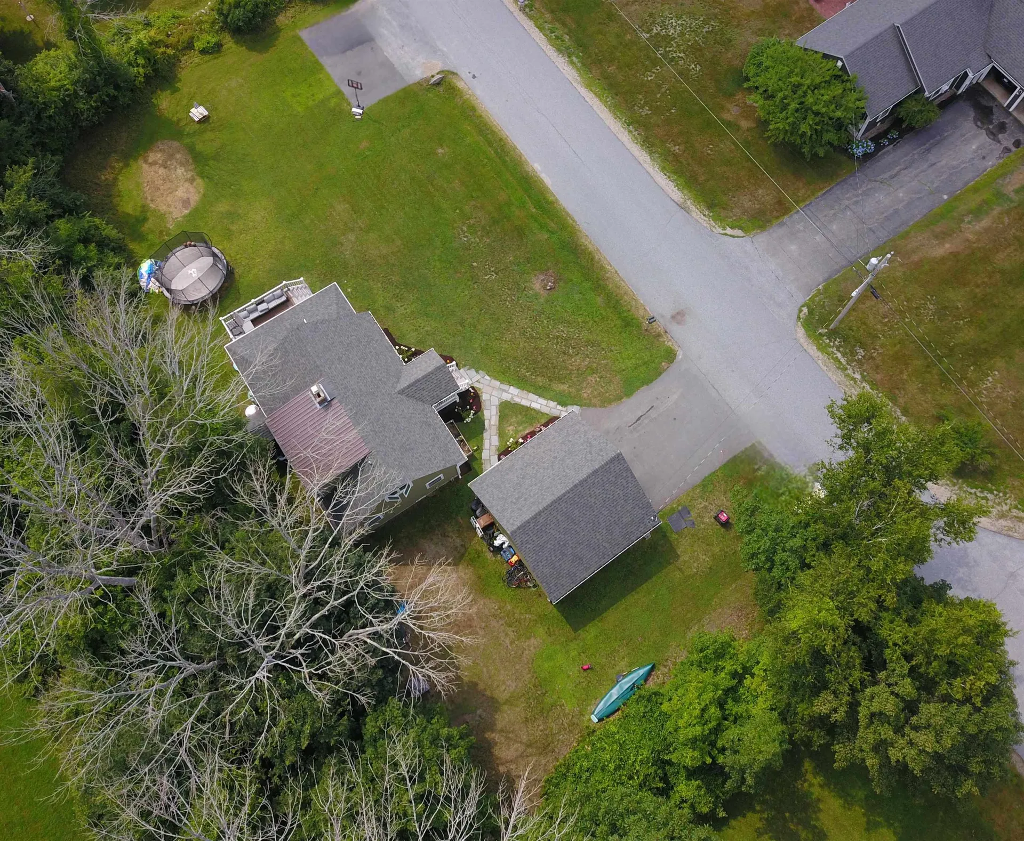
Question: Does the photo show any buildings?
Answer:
Yes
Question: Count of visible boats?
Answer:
1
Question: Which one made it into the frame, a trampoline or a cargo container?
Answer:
trampoline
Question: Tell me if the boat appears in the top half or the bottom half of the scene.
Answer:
bottom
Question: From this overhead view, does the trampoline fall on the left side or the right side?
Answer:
left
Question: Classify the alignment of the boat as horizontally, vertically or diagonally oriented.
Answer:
diagonally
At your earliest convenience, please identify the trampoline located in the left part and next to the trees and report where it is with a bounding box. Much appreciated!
[142,229,231,313]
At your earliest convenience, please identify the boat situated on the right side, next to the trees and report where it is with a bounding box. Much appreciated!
[590,663,655,723]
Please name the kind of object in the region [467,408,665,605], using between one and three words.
building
